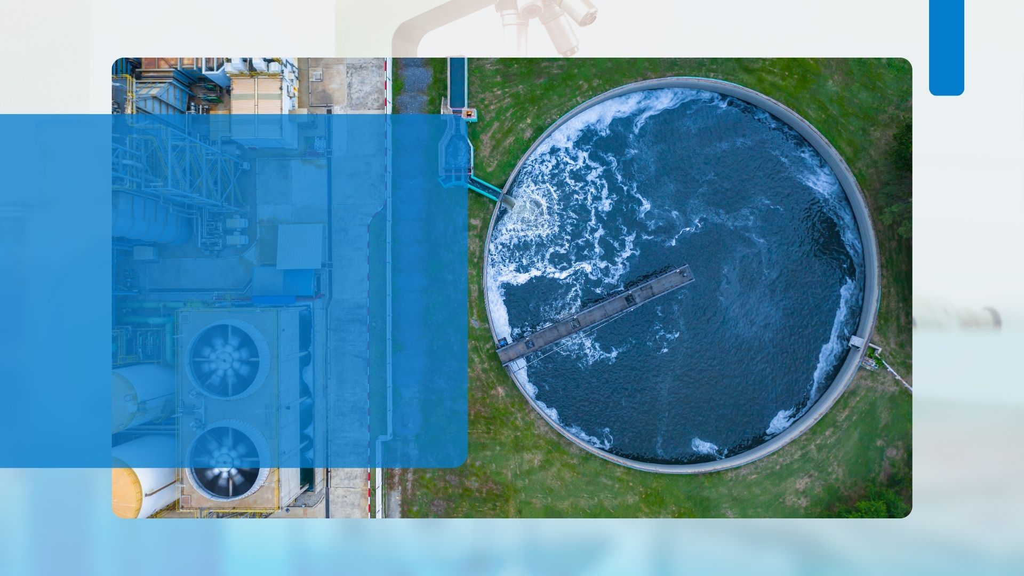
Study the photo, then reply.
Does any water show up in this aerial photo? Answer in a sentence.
Yes, some water is visible.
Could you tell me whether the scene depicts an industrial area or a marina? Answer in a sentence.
This image shows an industrial area.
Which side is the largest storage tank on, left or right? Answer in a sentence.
The largest storage tank sits on the right side.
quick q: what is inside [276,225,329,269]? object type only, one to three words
shed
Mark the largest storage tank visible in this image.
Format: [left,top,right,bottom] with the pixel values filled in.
[483,77,880,474]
